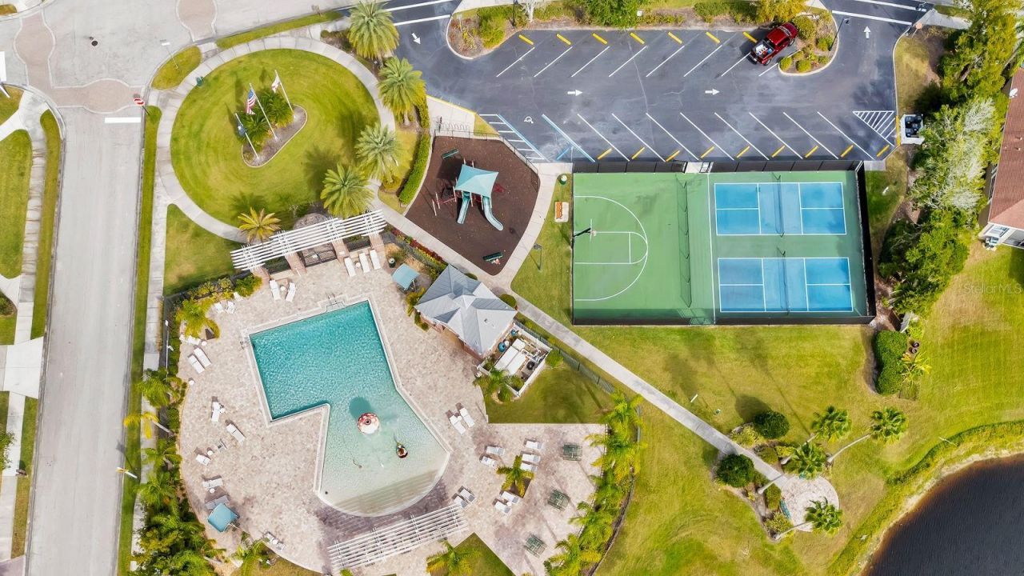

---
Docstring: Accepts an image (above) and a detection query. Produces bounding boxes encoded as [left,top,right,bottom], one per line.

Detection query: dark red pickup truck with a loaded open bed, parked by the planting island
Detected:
[751,24,799,65]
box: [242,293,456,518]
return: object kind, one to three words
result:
swimming pool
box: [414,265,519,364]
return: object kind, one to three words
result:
building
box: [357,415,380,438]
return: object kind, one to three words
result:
fountain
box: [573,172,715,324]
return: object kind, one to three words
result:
basketball court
